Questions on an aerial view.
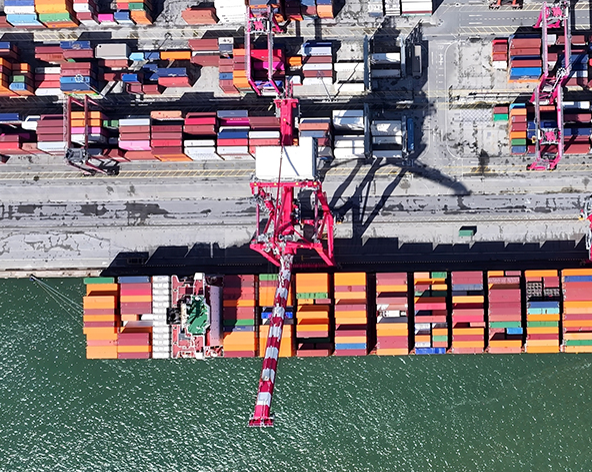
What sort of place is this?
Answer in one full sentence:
What you see here is a port.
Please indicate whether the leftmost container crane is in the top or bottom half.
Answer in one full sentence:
You can find the leftmost container crane in the top half.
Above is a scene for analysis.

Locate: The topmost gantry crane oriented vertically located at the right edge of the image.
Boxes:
[529,3,572,95]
